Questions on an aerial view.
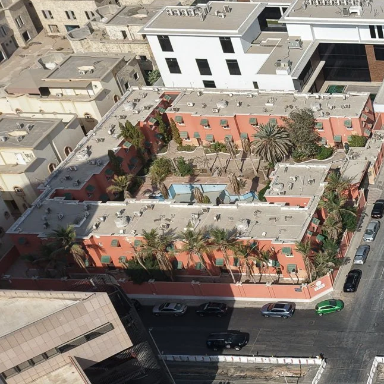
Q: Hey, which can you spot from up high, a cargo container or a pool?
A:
pool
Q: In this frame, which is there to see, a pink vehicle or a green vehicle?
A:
green vehicle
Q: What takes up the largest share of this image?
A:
buildings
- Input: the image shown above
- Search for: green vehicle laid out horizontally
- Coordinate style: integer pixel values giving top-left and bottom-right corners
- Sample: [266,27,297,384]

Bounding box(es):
[313,300,346,316]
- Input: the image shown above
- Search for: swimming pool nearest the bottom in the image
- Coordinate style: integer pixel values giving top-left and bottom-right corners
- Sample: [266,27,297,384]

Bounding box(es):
[141,178,262,206]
